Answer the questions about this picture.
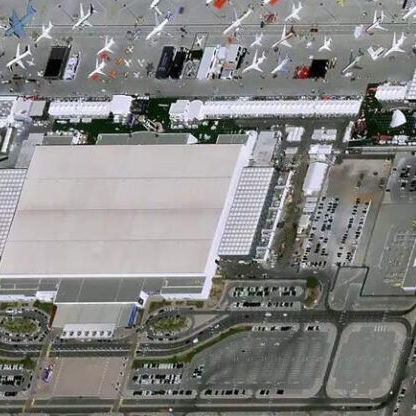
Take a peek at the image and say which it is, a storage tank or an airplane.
airplane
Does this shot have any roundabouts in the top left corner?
No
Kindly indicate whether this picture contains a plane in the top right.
Yes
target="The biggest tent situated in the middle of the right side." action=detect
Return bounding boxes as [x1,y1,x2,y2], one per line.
[303,162,332,195]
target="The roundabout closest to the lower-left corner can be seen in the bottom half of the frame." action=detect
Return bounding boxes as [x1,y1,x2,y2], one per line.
[0,309,45,342]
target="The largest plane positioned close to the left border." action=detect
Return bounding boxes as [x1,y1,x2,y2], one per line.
[6,2,33,35]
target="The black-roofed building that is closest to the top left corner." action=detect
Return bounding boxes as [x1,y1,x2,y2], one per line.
[45,47,74,83]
